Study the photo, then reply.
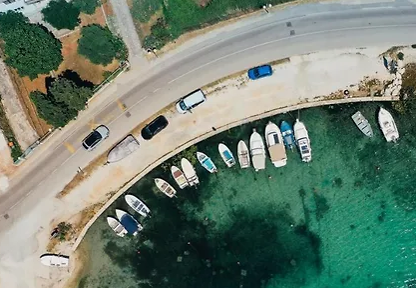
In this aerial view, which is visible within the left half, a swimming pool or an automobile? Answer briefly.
automobile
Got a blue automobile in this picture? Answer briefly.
Yes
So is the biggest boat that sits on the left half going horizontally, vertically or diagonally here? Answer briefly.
diagonally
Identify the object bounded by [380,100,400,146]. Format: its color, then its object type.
white boat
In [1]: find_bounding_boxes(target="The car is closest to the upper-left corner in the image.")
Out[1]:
[81,122,112,150]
